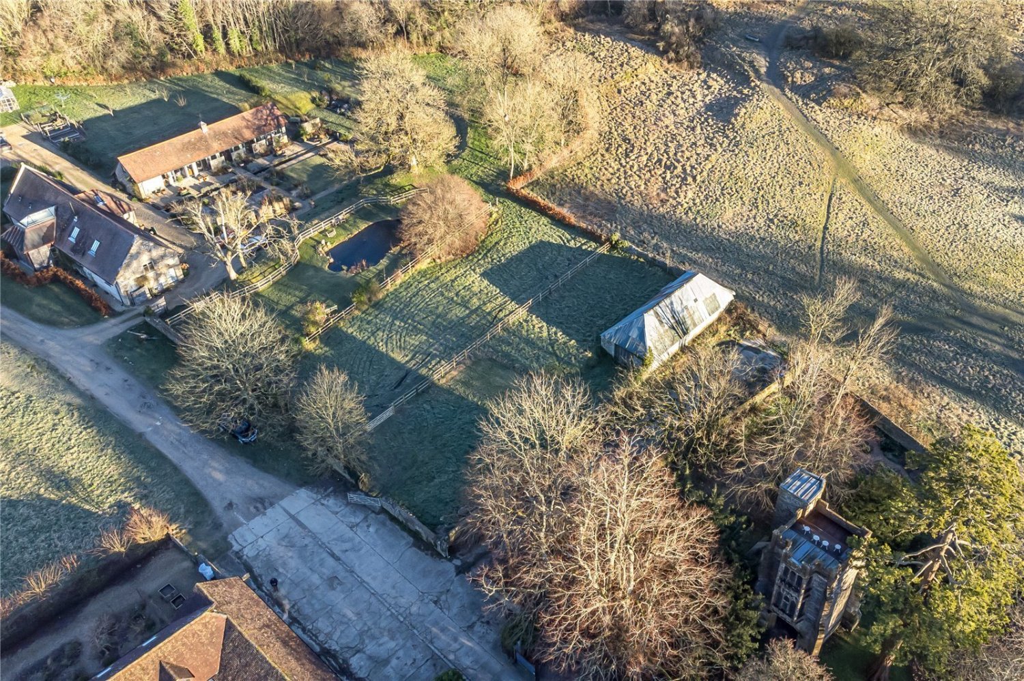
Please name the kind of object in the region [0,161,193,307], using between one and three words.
house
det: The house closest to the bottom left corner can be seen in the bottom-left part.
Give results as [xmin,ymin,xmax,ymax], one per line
[88,570,340,681]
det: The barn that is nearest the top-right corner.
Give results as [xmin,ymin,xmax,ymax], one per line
[591,267,740,381]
